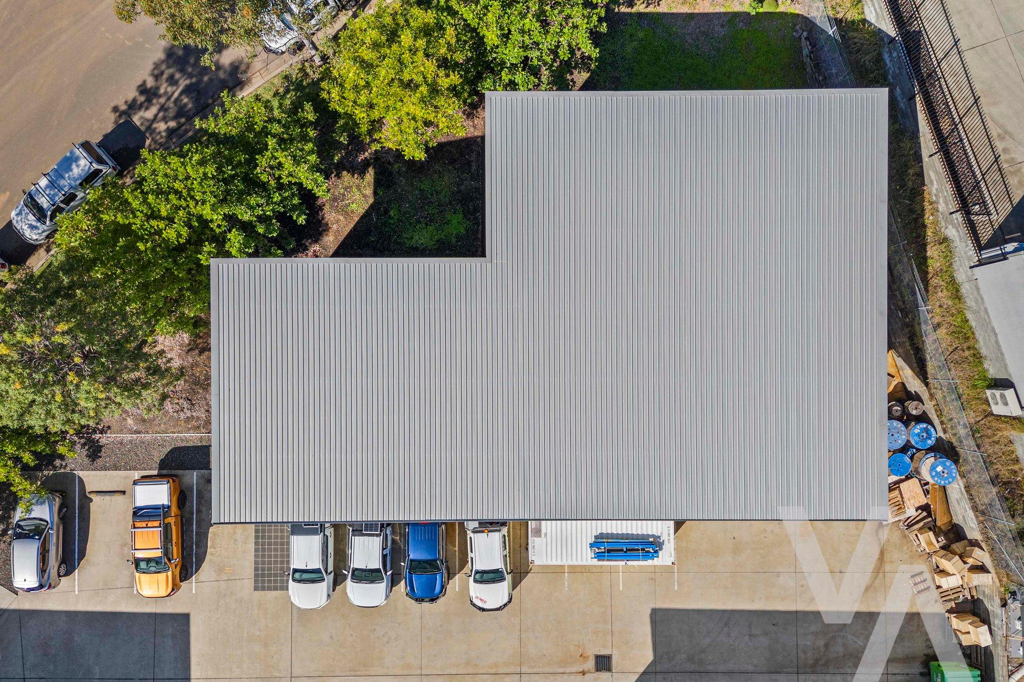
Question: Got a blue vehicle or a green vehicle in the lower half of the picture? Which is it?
blue vehicle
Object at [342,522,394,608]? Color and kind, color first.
white truck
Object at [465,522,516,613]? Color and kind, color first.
white truck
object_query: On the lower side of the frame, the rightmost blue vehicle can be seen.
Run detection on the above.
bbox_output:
[400,522,451,609]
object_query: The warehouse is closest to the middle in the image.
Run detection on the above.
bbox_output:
[211,88,888,524]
